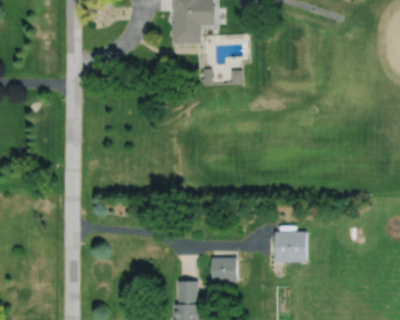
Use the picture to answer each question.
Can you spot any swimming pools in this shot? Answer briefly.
Yes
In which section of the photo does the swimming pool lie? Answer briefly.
top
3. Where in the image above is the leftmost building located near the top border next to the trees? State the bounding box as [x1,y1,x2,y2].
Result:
[169,0,218,44]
